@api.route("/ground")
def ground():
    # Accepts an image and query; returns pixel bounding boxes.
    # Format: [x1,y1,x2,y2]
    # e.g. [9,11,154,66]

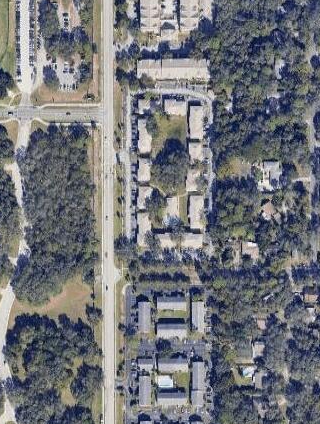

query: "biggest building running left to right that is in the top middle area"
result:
[137,59,210,80]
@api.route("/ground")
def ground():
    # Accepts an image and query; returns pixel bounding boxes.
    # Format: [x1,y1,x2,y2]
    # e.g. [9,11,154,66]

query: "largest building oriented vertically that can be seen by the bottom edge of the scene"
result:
[192,362,205,406]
